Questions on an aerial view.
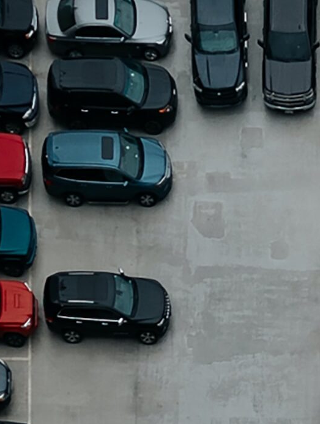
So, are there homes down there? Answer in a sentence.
No, no home can be seen from above.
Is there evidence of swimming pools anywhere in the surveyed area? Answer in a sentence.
No, I can see no swimming pool in this picture.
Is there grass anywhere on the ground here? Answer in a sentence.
No, grass can't be seen anywhere here.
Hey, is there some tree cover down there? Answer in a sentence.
No, the picture contains no tree cover.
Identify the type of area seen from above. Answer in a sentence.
This looks like a parking lot.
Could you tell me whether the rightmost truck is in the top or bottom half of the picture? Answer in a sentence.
The rightmost truck is in the top half of the image.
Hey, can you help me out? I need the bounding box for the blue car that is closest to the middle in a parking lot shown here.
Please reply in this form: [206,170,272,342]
[40,128,173,206]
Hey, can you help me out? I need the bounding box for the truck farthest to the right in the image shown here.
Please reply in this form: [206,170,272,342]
[258,0,320,111]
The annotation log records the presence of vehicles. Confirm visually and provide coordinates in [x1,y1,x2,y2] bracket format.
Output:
[0,0,39,58]
[0,133,32,203]
[40,128,173,206]
[45,0,173,60]
[0,280,38,347]
[186,0,248,107]
[46,54,178,132]
[0,61,39,134]
[0,207,38,276]
[42,269,171,344]
[258,0,320,111]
